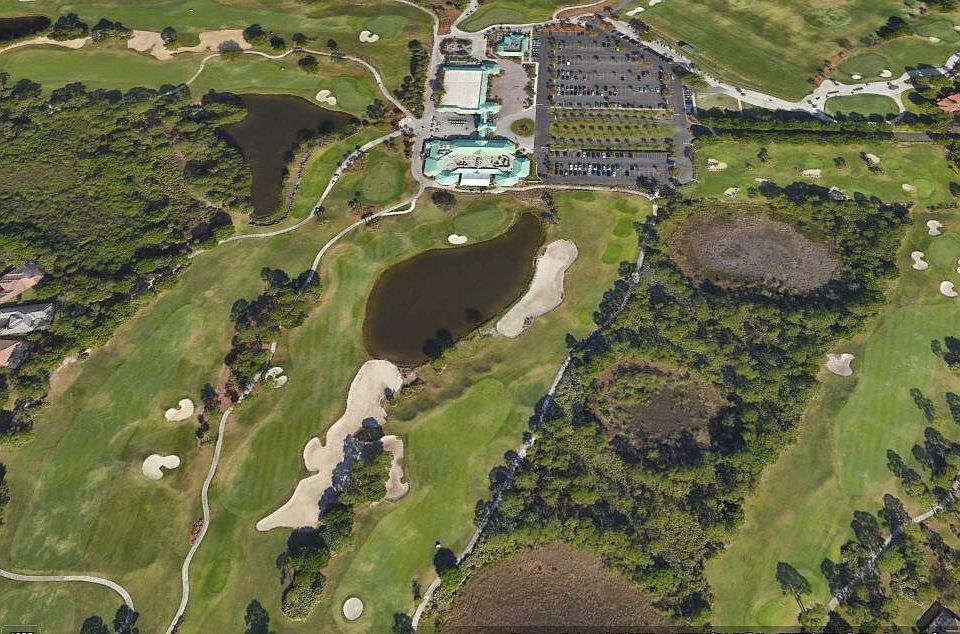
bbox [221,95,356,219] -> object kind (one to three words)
pond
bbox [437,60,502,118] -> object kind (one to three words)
barn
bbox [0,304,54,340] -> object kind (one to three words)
house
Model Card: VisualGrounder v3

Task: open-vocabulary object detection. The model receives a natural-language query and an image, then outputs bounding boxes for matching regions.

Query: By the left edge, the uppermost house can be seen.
[0,263,44,308]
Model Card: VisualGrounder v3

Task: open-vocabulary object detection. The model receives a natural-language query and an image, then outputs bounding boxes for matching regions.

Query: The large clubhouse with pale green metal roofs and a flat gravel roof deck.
[424,140,530,192]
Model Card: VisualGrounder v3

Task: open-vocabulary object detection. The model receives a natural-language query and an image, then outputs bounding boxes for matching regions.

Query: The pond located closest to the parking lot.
[364,215,544,366]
